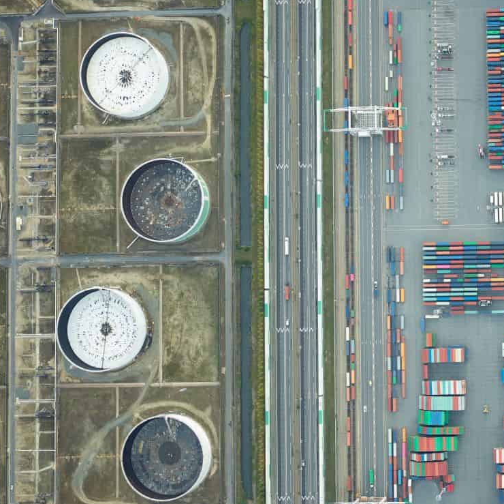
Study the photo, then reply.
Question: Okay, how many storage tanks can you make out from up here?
4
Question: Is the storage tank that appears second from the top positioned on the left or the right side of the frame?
left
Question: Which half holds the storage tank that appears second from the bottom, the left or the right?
left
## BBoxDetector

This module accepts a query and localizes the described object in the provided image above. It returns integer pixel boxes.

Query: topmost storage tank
[79,33,171,126]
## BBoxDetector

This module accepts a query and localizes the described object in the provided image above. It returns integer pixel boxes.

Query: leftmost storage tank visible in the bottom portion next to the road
[56,275,149,371]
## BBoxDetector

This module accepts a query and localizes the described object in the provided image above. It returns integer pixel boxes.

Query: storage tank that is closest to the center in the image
[121,158,210,243]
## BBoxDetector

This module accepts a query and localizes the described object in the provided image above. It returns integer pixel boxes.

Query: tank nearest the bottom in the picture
[121,406,214,502]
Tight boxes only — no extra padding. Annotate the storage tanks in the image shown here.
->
[121,406,214,502]
[121,158,210,243]
[79,33,171,126]
[56,275,149,371]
